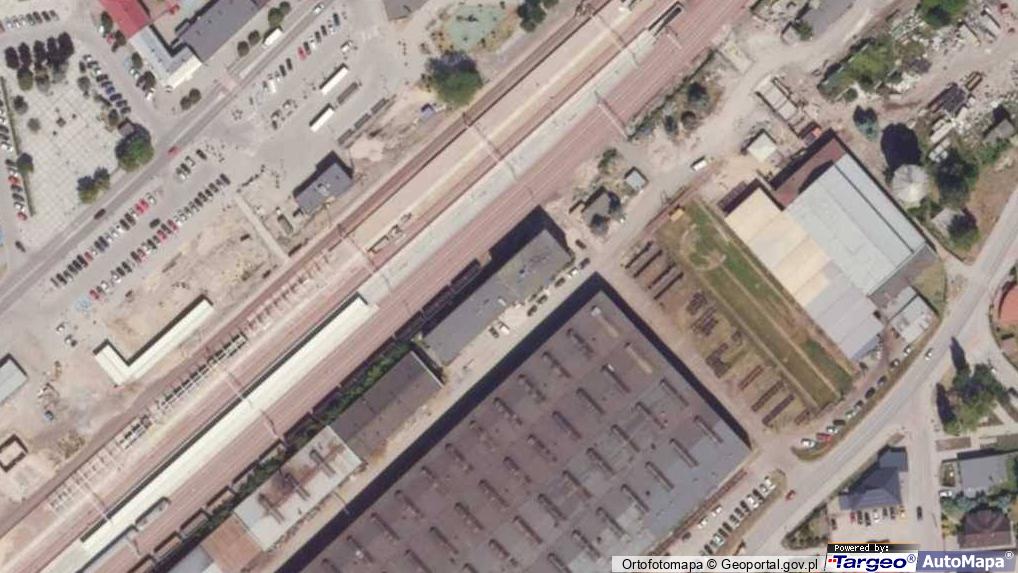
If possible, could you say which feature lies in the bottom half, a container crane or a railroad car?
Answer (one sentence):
What appears in the bottom half is a railroad car.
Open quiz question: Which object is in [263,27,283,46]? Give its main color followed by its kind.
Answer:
white vehicle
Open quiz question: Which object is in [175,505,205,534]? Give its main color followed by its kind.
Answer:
gray rail car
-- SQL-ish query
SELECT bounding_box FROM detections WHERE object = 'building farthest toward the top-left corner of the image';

[98,0,153,39]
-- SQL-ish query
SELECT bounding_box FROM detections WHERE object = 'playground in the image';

[443,5,505,49]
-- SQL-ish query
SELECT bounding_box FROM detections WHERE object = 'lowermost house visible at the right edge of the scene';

[960,506,1013,548]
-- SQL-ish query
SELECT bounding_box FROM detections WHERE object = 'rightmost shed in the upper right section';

[985,119,1018,153]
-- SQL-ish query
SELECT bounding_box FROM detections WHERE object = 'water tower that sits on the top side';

[891,167,929,203]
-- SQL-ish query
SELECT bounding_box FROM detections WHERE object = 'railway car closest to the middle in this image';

[449,263,479,291]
